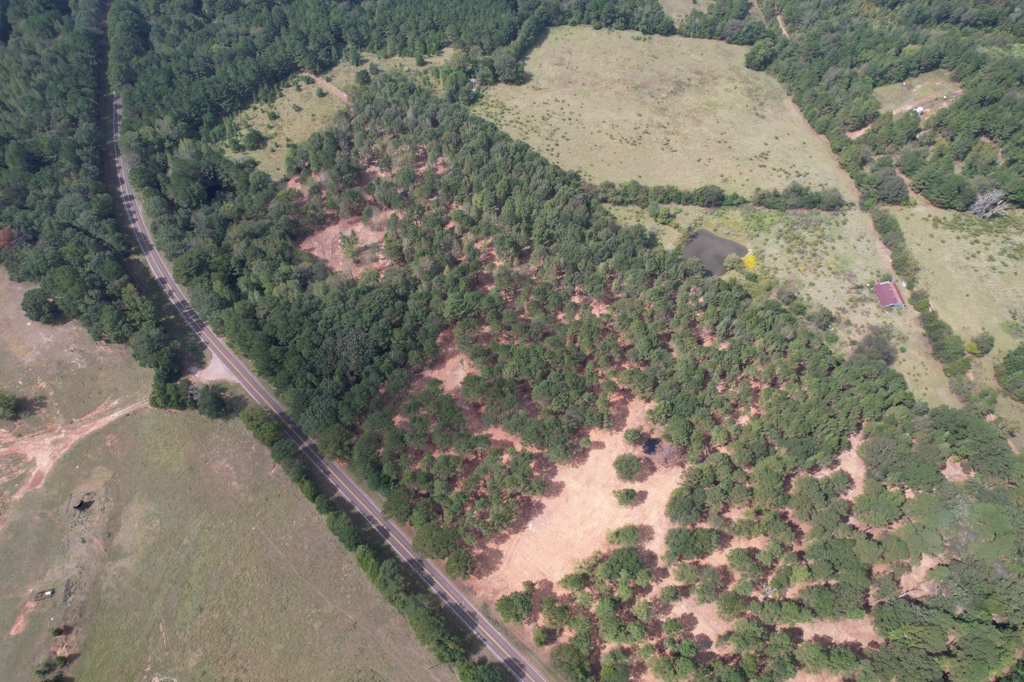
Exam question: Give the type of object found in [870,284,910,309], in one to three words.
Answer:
barn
